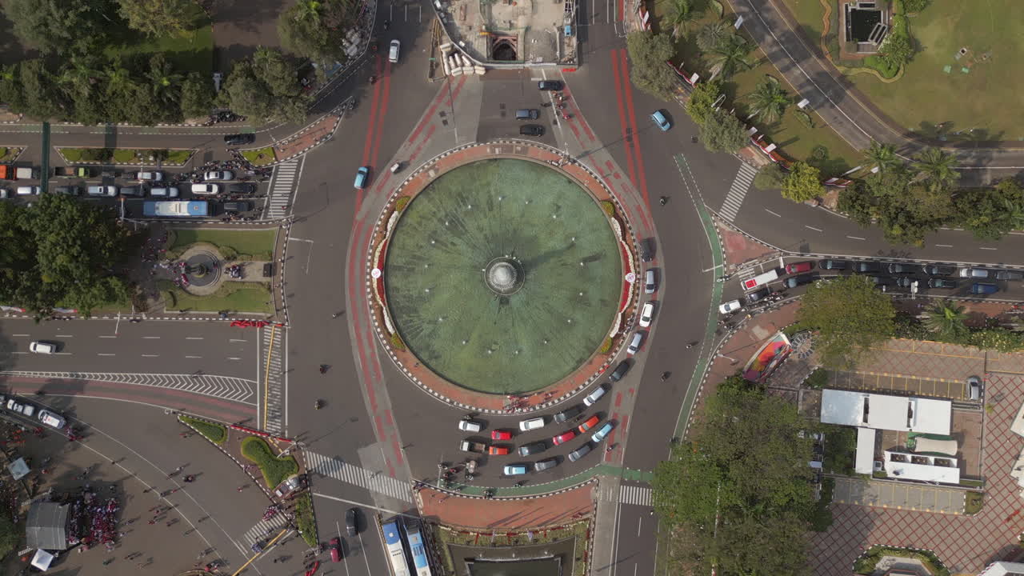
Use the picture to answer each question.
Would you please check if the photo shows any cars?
Yes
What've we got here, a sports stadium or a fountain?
fountain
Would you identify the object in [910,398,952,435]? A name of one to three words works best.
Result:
building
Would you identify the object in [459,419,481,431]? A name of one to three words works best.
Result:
vehicle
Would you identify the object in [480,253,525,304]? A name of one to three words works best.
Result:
fountain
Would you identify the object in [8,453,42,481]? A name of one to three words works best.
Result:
tent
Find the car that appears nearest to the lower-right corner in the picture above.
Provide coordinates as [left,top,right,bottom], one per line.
[966,376,980,400]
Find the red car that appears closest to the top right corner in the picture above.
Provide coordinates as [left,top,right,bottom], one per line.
[785,262,811,274]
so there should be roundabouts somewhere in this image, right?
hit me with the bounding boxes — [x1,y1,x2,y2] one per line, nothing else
[367,139,641,413]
